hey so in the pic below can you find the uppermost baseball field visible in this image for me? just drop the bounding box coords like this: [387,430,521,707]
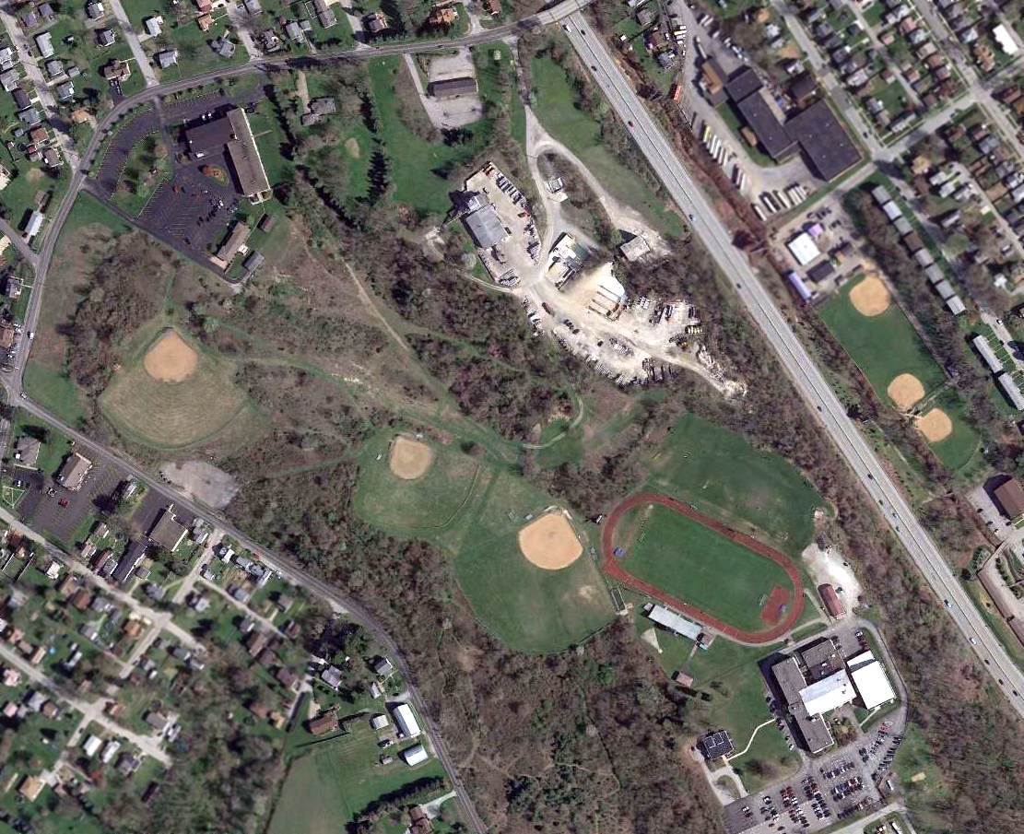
[818,268,922,369]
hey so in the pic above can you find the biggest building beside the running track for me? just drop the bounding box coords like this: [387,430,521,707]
[772,641,858,754]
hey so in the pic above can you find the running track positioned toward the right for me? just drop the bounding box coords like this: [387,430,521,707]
[601,493,805,644]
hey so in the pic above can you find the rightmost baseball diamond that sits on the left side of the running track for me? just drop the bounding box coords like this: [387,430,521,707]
[452,469,617,651]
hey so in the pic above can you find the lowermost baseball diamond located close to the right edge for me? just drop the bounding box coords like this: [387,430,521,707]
[912,404,981,469]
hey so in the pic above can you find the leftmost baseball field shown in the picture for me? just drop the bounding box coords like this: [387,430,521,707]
[103,318,250,452]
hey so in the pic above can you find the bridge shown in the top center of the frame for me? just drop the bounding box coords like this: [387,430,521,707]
[531,0,589,31]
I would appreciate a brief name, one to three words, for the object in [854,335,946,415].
baseball field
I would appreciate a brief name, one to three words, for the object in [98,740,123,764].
house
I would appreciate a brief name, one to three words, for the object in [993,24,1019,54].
building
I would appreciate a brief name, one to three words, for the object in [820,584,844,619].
shed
